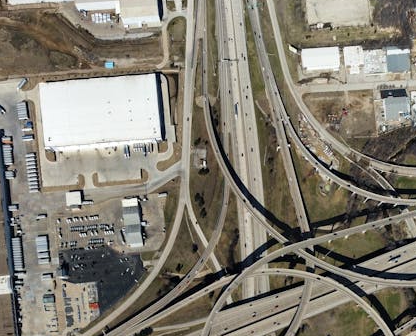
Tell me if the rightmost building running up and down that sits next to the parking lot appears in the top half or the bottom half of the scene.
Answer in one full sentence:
The rightmost building running up and down that sits next to the parking lot is in the bottom half of the image.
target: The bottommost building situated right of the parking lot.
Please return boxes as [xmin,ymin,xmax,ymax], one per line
[122,198,145,248]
